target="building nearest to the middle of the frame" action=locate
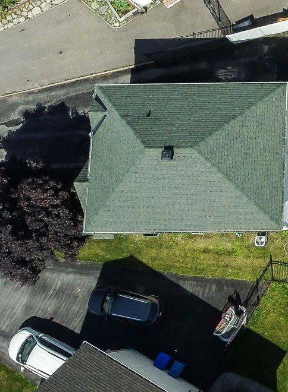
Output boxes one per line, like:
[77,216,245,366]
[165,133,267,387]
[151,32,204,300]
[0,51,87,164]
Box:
[74,81,288,245]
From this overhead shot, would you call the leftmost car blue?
No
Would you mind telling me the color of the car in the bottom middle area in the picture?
black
